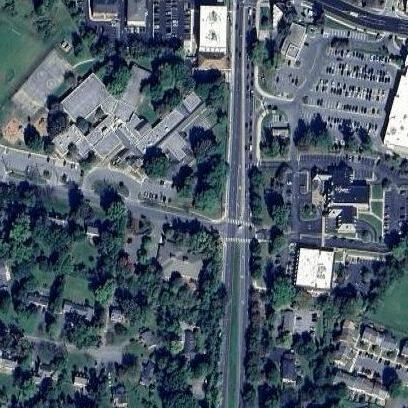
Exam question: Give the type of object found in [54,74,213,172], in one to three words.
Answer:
building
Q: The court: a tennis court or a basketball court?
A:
basketball court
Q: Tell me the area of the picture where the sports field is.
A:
top left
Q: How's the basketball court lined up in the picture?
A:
diagonally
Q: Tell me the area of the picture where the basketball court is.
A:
top left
